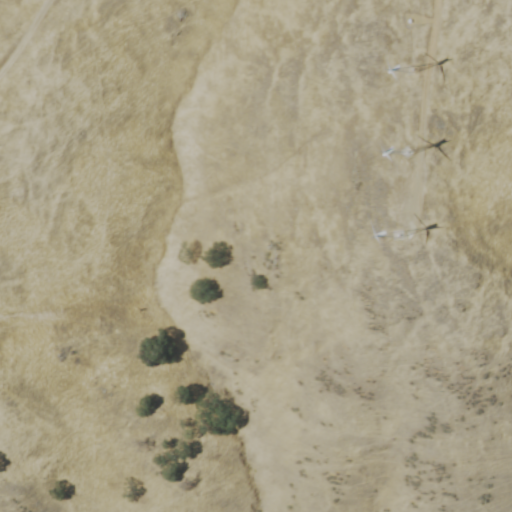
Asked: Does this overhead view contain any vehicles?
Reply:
No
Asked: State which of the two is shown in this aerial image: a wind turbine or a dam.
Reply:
wind turbine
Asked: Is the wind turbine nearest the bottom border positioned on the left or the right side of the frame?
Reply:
right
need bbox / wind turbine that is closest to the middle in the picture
[370,227,402,250]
